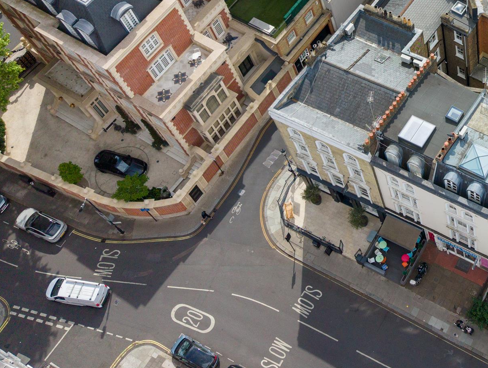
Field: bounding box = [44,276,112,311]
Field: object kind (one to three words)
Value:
van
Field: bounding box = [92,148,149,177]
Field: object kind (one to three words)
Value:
car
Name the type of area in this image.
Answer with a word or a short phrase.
residential area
